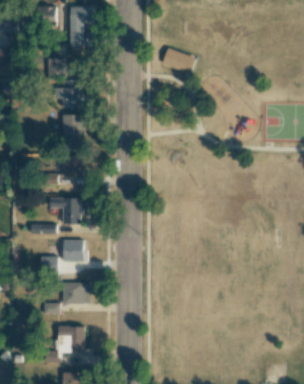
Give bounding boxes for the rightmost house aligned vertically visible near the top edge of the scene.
[70,6,88,49]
